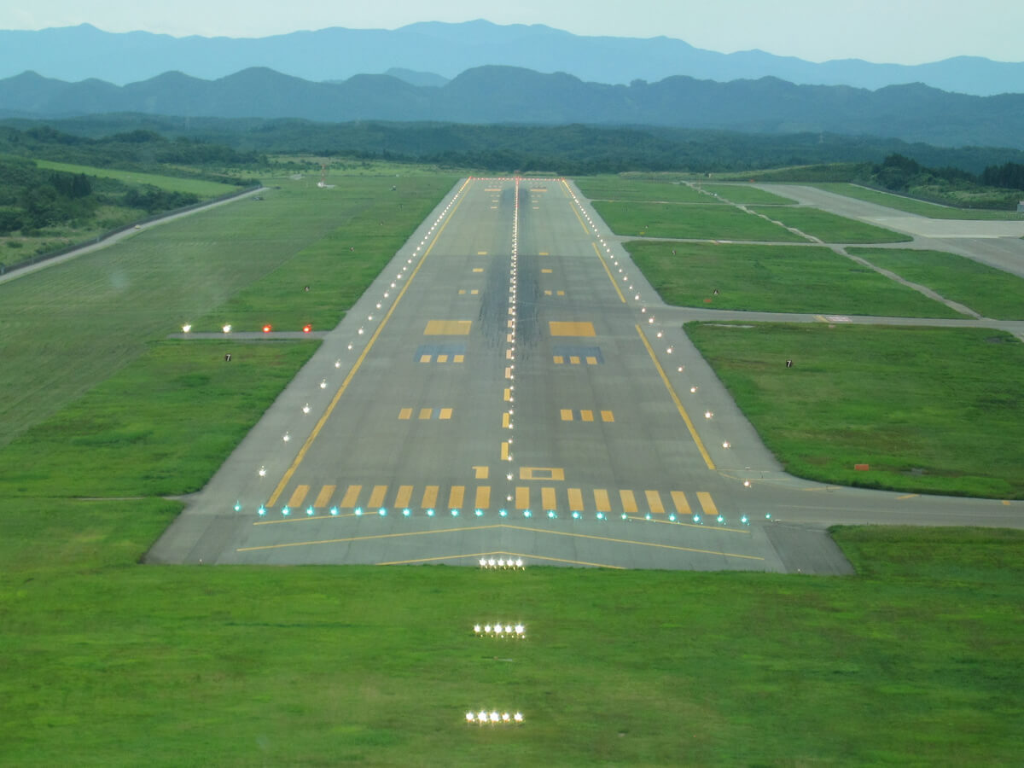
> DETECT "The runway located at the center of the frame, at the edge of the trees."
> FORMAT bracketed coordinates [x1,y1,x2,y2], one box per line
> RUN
[259,175,747,519]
